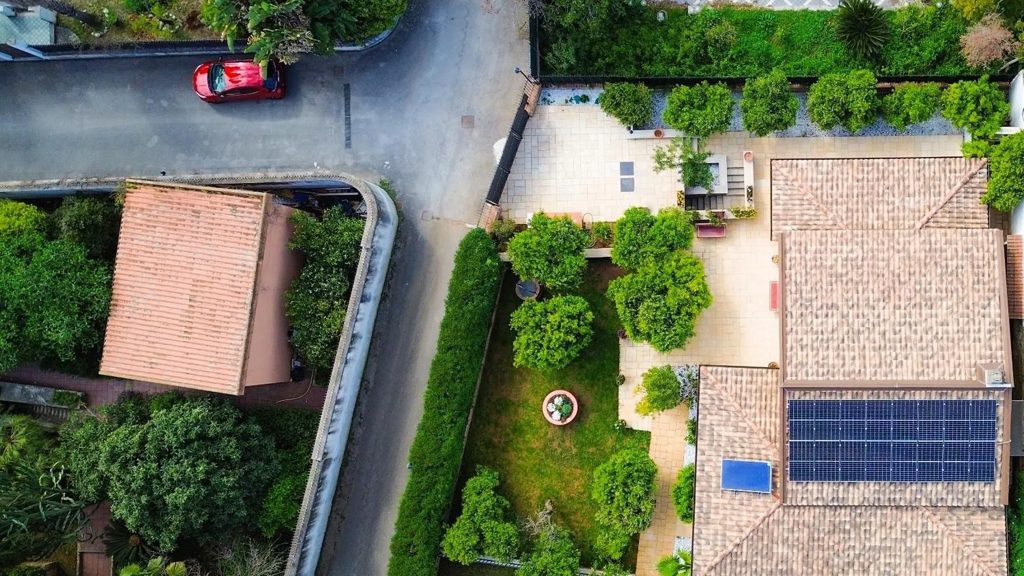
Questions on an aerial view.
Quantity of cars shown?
1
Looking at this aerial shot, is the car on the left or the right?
left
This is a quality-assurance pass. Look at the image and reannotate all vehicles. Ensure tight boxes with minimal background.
[193,52,288,106]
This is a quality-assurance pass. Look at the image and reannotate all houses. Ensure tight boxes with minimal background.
[684,156,1013,576]
[98,178,306,397]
